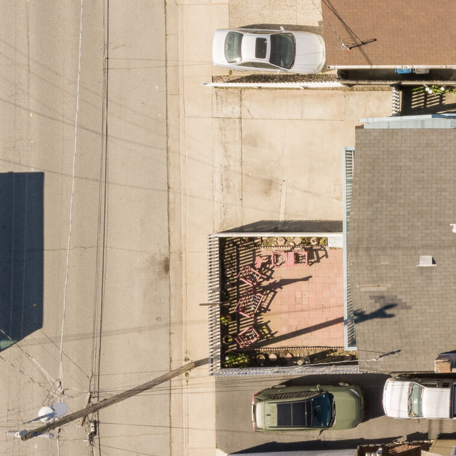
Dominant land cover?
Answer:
paved ground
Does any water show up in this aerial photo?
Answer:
No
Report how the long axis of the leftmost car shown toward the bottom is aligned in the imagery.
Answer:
from side to side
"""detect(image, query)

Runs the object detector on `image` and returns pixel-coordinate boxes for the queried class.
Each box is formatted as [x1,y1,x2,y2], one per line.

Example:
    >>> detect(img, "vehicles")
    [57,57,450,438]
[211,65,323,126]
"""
[252,381,364,437]
[383,375,456,426]
[210,24,325,76]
